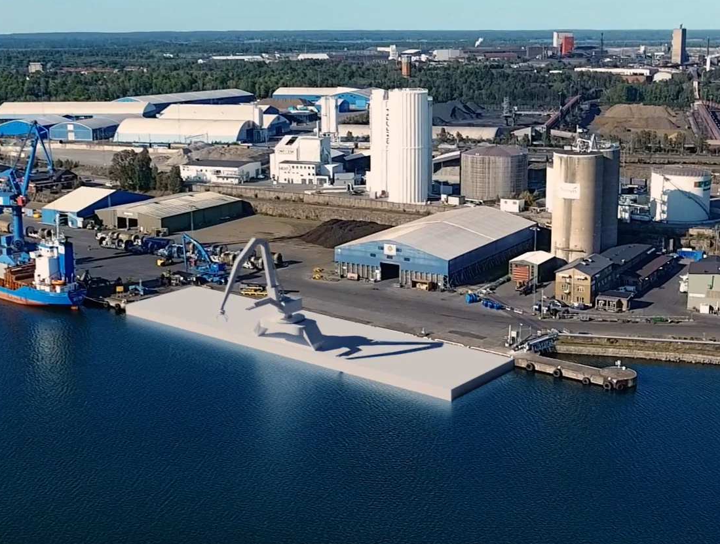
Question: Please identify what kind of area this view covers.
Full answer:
It's a port.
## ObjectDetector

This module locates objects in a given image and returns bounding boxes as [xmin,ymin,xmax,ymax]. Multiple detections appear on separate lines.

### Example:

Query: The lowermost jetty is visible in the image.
[512,351,638,389]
